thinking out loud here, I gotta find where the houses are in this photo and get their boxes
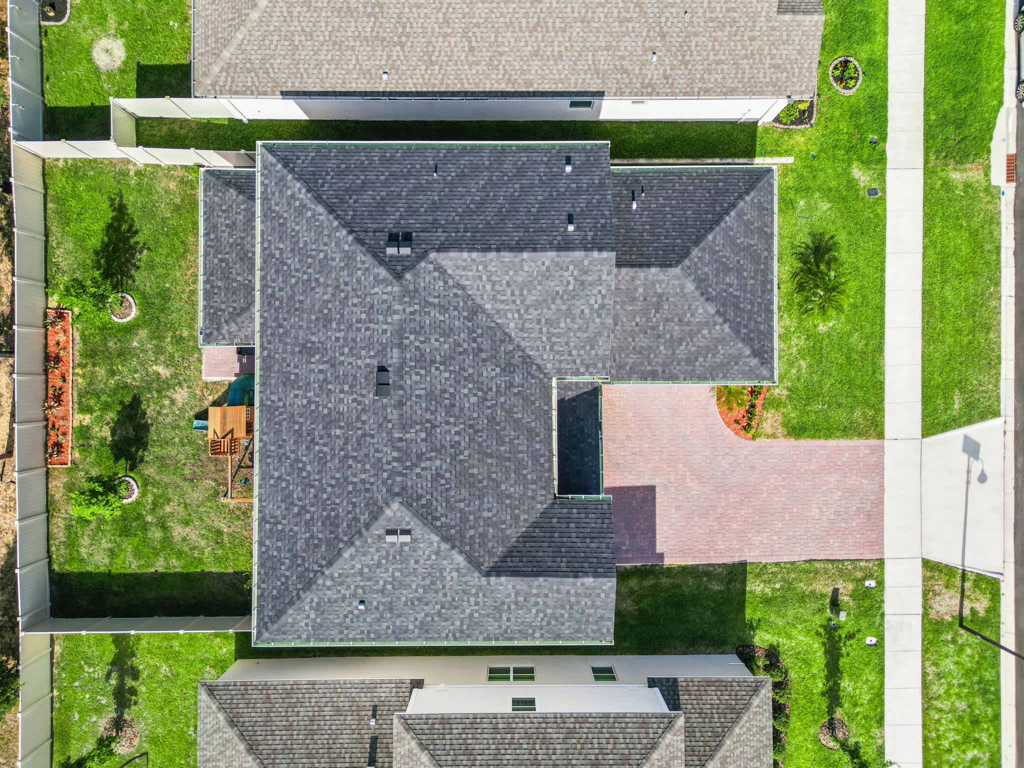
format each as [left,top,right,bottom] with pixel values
[189,0,828,121]
[196,656,773,768]
[198,140,779,647]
